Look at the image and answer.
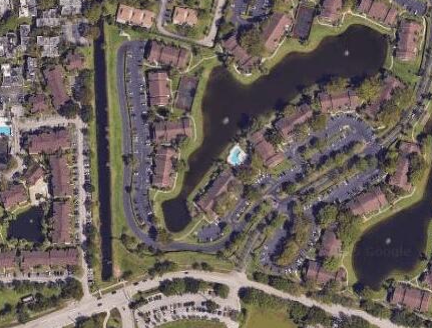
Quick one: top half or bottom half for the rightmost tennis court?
top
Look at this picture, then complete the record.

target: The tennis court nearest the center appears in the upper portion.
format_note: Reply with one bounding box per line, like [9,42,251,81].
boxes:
[175,75,198,112]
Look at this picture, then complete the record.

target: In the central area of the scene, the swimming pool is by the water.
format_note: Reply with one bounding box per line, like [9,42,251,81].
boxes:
[228,145,246,165]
